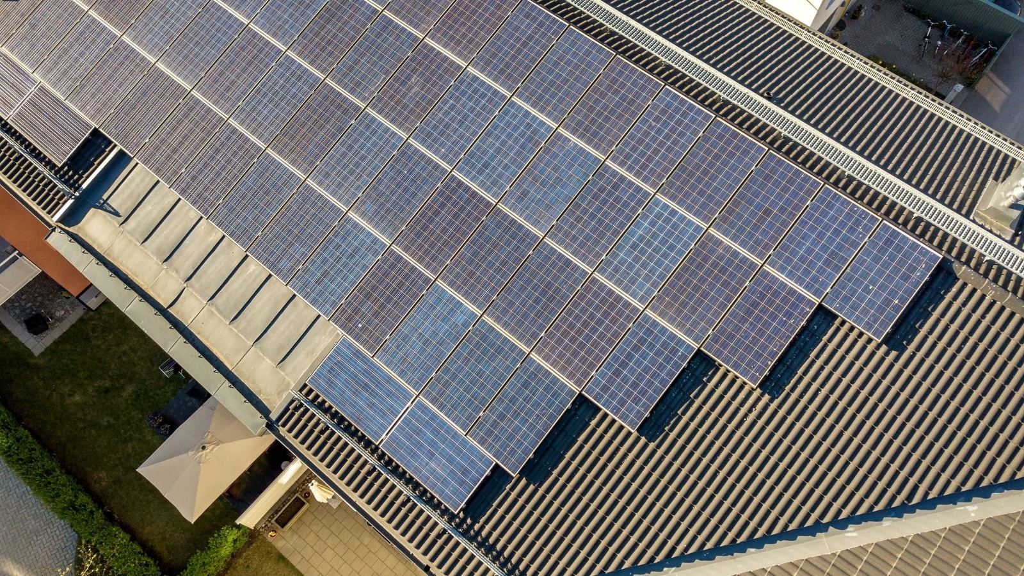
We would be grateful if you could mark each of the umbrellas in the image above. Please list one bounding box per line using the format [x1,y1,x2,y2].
[310,483,344,509]
[138,399,275,523]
